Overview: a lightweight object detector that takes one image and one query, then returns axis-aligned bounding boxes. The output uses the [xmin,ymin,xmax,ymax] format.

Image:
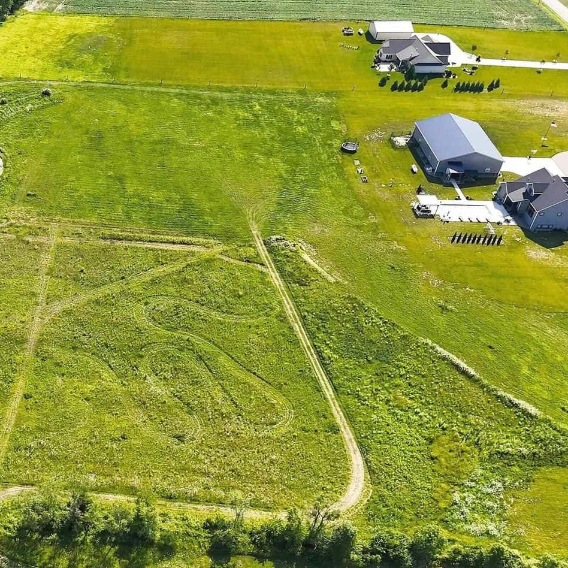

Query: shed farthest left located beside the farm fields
[368,22,417,41]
